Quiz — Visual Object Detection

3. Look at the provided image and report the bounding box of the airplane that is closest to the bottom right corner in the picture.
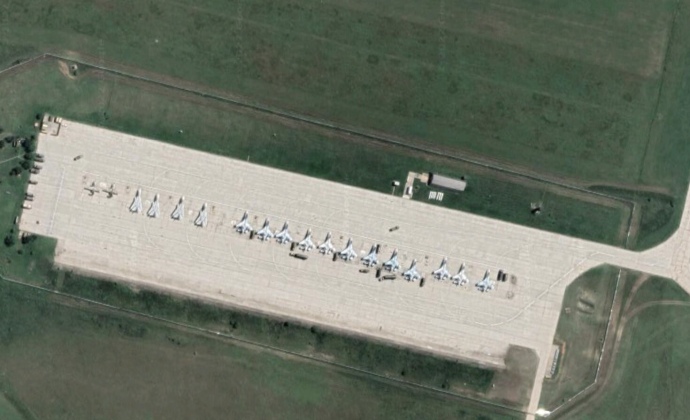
[477,270,493,294]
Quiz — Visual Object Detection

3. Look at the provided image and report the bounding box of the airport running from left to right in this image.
[19,113,690,367]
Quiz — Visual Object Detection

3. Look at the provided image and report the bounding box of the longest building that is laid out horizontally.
[430,175,467,191]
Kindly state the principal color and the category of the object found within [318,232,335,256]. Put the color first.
white airplane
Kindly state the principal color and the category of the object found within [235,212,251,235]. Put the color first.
white airplane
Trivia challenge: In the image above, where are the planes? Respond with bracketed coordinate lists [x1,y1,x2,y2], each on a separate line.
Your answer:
[404,260,420,283]
[477,270,493,294]
[83,181,99,198]
[129,189,142,214]
[299,229,315,251]
[172,196,185,221]
[453,264,469,287]
[363,245,380,268]
[384,250,401,273]
[256,218,272,242]
[102,183,117,200]
[235,212,251,235]
[318,232,335,256]
[275,222,291,245]
[195,203,207,228]
[435,257,451,280]
[147,194,159,218]
[340,237,356,262]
